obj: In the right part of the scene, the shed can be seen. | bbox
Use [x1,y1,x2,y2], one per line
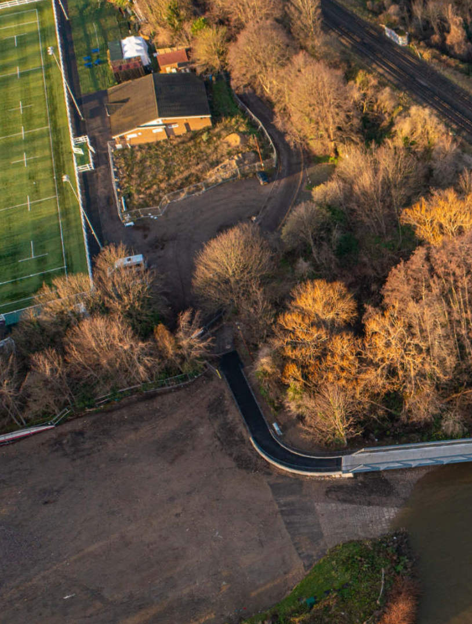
[396,37,436,61]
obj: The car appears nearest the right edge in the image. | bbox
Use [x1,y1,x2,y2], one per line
[255,168,268,183]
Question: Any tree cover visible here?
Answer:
Yes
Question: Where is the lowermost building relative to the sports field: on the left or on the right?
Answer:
to the right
